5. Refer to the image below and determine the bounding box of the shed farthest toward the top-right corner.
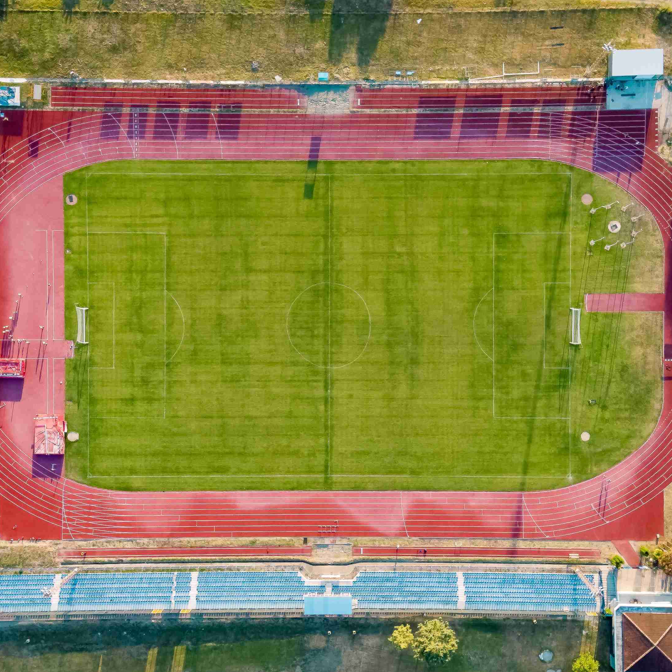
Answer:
[606,49,664,80]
